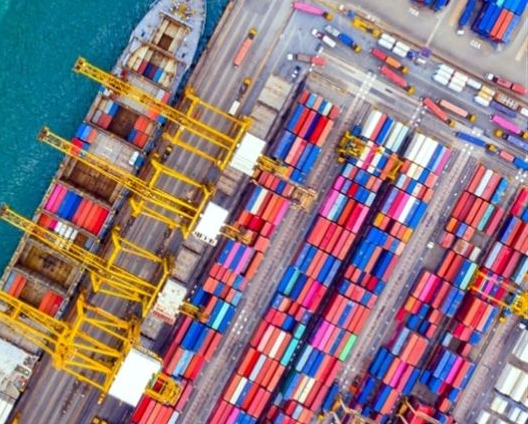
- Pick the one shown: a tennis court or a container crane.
container crane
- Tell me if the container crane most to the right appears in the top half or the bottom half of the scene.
bottom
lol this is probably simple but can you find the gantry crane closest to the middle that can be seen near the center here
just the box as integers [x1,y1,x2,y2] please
[245,161,320,213]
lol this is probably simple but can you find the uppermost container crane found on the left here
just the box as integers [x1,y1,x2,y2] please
[75,51,296,178]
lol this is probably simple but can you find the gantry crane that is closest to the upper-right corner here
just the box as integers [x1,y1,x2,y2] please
[328,125,409,178]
